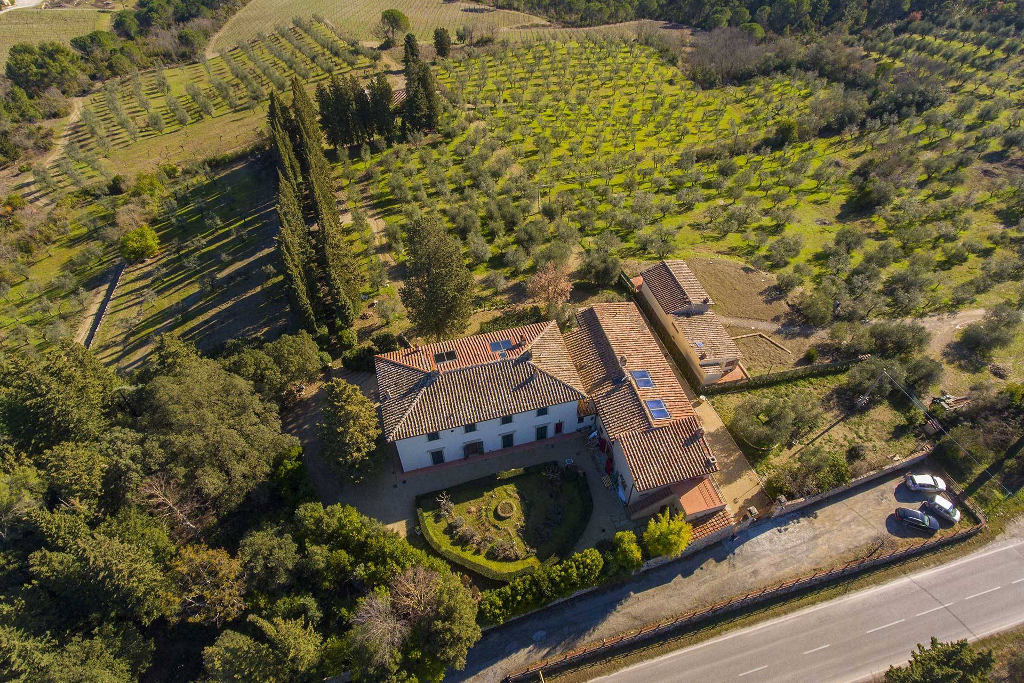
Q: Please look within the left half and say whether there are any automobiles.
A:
No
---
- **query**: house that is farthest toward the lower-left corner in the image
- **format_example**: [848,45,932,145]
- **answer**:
[373,318,589,472]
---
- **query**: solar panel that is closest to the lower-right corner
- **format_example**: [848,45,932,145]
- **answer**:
[647,398,671,419]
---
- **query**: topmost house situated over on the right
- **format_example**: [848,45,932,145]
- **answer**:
[634,257,758,394]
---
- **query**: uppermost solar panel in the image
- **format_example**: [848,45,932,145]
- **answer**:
[632,370,656,388]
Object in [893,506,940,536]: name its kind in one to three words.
car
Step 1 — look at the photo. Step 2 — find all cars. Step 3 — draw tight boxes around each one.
[921,493,964,525]
[903,475,947,496]
[893,506,940,536]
